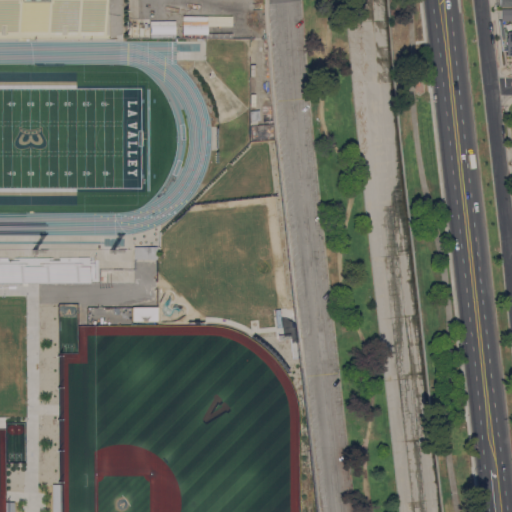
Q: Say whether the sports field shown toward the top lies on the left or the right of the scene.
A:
left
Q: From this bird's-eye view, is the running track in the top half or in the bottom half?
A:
top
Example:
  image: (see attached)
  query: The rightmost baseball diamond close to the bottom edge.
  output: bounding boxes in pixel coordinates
[60,326,300,512]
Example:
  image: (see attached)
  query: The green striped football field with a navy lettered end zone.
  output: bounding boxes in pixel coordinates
[0,64,178,212]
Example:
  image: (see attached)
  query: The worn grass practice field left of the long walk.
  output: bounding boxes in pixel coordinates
[0,297,26,418]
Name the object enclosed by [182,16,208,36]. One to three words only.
building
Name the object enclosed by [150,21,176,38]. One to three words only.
shed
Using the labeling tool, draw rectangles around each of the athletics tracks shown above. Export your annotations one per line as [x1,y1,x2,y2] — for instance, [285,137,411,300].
[0,42,211,234]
